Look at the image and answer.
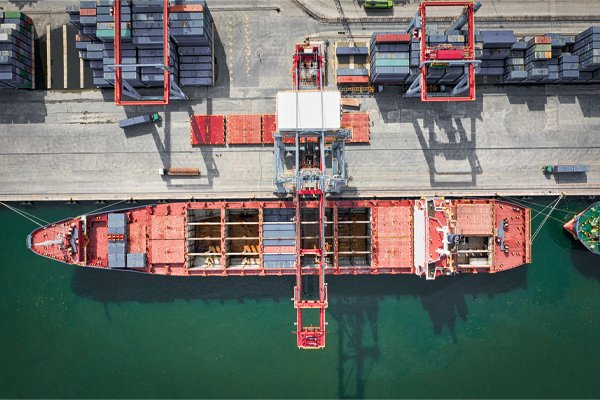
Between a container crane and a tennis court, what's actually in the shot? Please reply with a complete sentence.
The image shows a container crane.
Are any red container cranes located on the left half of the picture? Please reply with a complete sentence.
Yes, a red container crane shows up on the left half of the picture.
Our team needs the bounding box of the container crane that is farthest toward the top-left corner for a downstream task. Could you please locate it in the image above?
[105,0,192,105]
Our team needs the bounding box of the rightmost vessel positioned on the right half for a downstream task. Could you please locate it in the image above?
[563,200,600,256]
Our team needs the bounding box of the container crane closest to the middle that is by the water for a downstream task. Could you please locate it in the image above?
[267,45,353,348]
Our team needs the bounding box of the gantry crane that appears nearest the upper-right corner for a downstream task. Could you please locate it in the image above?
[398,0,483,102]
